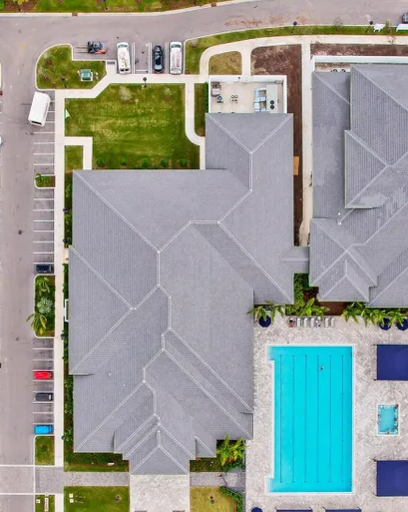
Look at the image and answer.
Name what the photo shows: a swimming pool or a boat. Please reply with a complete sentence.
Looking from above, you can make out a swimming pool.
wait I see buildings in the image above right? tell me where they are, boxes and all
[68,112,295,475]
[309,64,408,308]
